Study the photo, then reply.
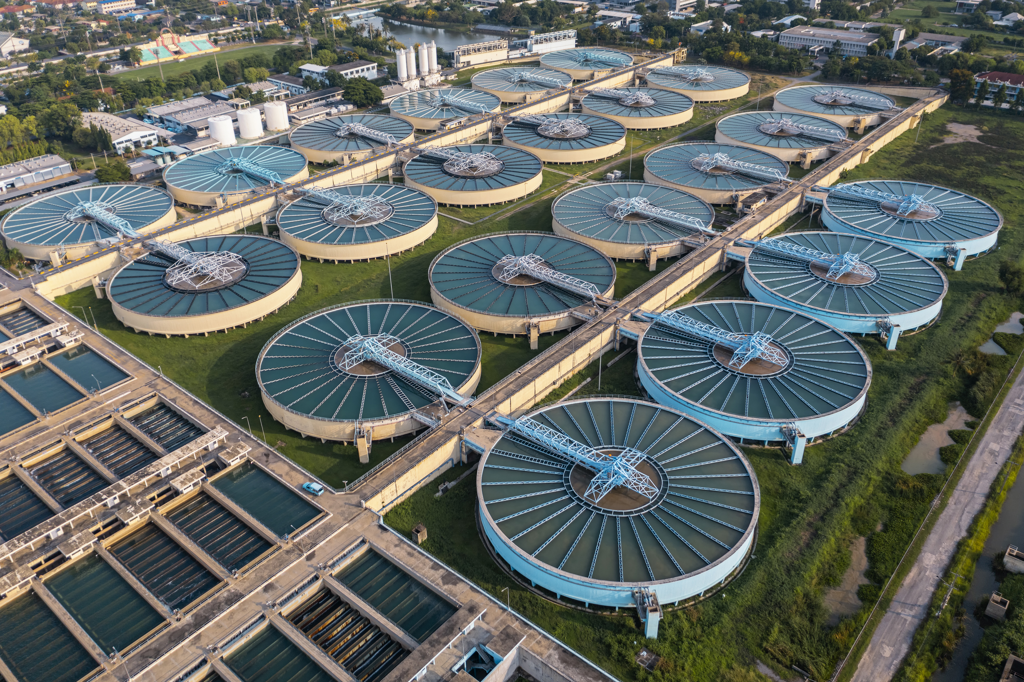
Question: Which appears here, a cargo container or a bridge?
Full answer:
There is a bridge in the scene.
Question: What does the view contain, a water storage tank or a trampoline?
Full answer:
Looking from above, you can make out a water storage tank.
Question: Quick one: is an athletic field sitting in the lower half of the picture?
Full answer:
No, there is no athletic field in the lower half of the picture.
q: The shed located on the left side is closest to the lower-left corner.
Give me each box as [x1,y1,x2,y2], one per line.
[0,569,31,604]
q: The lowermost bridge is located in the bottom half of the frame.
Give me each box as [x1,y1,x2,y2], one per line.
[494,415,614,475]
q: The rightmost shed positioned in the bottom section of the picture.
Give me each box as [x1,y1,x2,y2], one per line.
[216,443,253,471]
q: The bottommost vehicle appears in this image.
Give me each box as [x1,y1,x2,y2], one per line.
[304,481,327,494]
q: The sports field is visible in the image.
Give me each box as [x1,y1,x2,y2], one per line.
[114,44,299,85]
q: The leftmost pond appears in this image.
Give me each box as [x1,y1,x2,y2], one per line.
[825,537,868,625]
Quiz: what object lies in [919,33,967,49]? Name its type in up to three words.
building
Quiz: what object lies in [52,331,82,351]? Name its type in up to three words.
shed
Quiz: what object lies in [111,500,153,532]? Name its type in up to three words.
shed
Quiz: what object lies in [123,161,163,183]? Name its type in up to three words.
building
